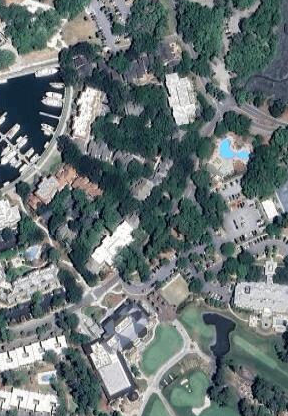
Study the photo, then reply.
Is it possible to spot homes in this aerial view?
Yes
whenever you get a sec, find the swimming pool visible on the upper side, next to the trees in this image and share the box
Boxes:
[219,138,251,160]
